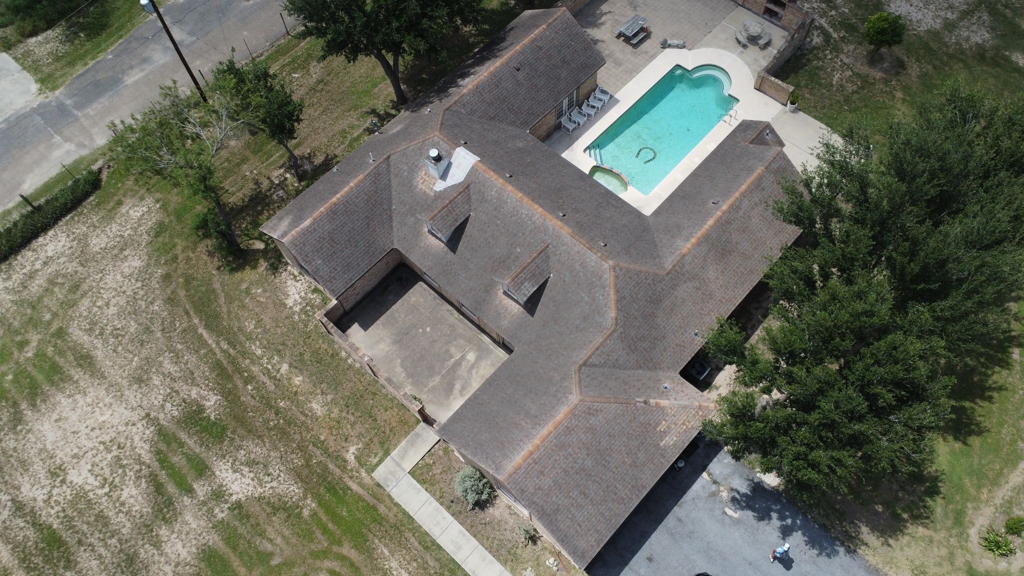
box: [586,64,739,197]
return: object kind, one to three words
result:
swimming pool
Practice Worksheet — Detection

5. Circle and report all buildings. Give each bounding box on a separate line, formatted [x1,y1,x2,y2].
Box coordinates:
[260,6,817,571]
